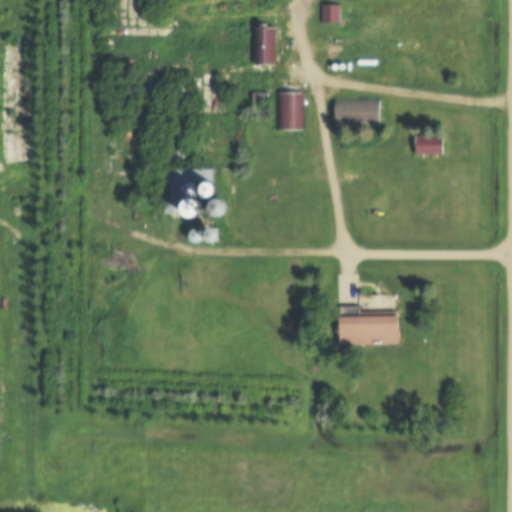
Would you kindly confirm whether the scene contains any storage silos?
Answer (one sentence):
Yes, you can see a storage silo in this photo.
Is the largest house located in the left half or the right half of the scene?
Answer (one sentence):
It is on the right.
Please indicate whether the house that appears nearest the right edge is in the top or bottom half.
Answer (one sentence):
The top half of the photo is where the house that appears nearest the right edge is.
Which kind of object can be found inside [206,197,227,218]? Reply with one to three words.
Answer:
silo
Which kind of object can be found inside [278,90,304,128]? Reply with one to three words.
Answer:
barn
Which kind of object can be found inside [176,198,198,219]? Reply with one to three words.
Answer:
silo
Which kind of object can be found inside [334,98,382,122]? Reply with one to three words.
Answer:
shed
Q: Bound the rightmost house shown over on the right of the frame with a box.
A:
[415,135,444,158]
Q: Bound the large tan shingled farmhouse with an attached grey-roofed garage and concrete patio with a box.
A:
[338,306,400,345]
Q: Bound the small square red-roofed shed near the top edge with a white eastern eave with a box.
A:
[320,4,342,22]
